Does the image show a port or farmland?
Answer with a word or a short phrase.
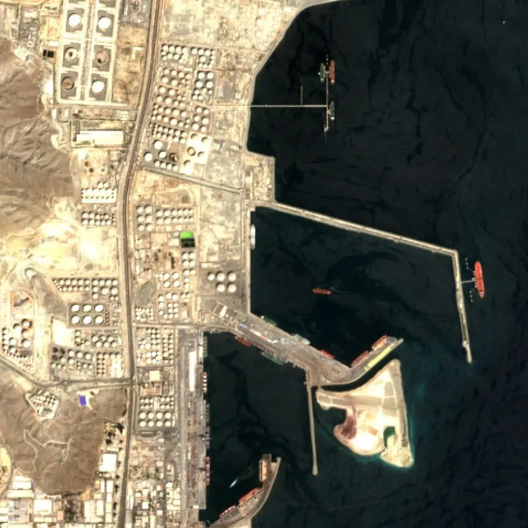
port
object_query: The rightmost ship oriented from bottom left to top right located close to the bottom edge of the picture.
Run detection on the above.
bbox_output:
[238,488,260,511]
